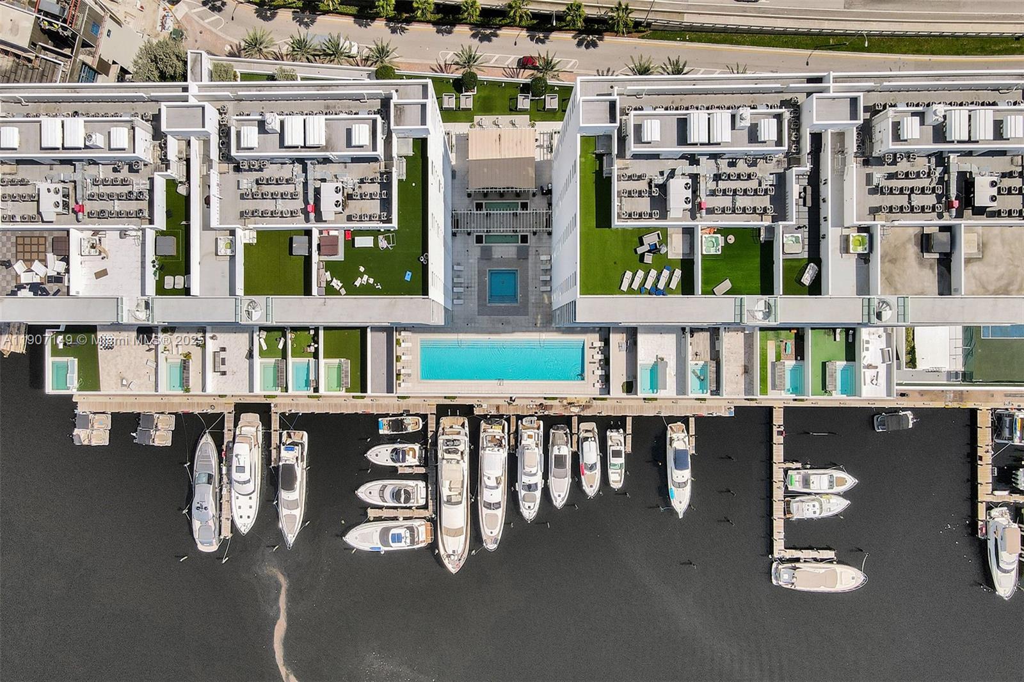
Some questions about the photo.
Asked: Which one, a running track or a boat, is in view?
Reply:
boat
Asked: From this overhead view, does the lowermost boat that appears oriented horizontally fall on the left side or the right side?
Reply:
right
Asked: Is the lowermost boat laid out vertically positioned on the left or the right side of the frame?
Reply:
right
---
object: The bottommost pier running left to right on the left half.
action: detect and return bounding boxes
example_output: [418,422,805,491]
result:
[367,505,426,520]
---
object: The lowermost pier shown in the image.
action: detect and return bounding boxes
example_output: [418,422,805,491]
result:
[784,546,839,563]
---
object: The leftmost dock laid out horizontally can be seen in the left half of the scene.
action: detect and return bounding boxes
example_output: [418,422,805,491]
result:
[77,402,237,416]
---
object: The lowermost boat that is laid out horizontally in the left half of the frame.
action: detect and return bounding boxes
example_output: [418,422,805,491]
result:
[343,516,436,551]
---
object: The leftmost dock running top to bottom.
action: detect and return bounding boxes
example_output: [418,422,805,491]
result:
[217,412,238,539]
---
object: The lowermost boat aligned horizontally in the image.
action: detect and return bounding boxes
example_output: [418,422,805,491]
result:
[768,558,869,591]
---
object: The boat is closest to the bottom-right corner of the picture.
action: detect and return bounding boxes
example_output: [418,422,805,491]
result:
[981,504,1024,600]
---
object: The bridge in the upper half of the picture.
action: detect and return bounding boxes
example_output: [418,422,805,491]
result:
[394,0,1024,39]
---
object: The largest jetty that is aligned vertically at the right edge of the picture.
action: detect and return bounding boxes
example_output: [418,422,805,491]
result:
[971,407,999,502]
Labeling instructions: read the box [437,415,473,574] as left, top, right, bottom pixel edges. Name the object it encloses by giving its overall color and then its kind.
white boat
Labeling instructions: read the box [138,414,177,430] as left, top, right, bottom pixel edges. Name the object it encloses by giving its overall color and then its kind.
gray boat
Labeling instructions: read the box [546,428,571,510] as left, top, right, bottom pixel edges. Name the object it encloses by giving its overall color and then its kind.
white boat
